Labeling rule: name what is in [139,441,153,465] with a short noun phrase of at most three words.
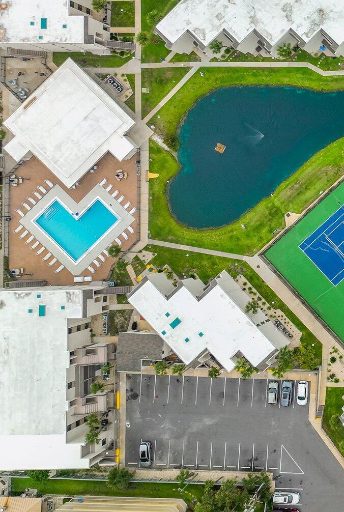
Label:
vehicle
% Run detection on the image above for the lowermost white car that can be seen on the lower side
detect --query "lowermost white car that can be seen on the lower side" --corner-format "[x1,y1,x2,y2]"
[275,491,299,504]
